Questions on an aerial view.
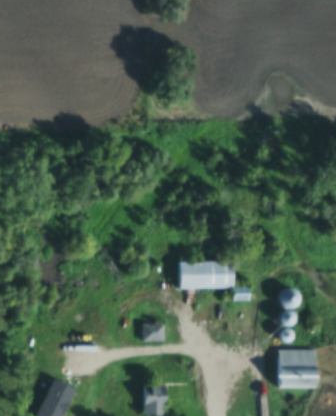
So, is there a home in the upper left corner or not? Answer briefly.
No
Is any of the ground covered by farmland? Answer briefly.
Yes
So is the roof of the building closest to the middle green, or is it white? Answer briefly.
white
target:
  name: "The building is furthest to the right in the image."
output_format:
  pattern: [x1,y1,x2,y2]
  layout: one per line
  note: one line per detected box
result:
[276,350,320,388]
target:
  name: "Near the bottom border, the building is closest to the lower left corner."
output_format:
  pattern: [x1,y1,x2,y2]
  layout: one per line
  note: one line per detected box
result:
[36,378,76,416]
